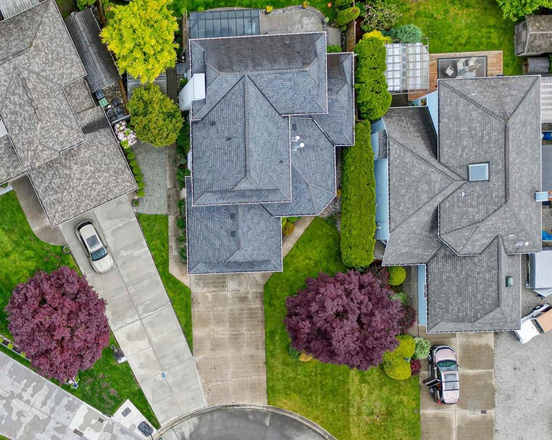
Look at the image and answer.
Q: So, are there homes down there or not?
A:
Yes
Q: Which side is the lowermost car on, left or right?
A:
right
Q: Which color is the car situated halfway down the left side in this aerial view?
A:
white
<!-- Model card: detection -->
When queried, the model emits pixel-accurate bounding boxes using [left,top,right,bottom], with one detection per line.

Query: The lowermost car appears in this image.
[421,346,459,403]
